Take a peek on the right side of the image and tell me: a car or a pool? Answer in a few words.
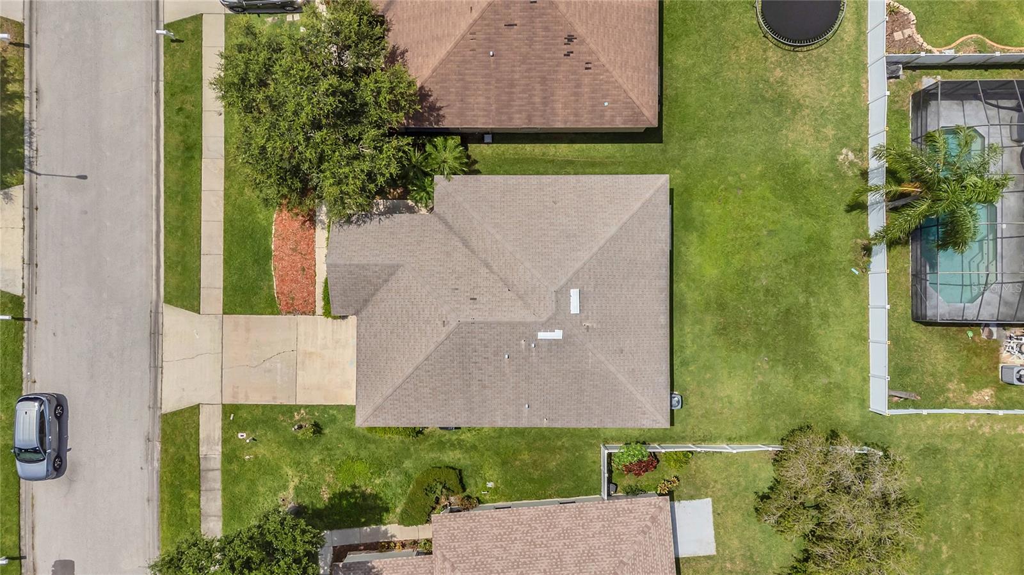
pool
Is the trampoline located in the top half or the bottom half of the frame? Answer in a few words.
top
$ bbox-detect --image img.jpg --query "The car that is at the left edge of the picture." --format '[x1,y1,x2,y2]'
[11,393,64,480]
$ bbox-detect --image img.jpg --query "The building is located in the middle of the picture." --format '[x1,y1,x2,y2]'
[325,174,670,428]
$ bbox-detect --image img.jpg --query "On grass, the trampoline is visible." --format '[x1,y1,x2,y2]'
[751,0,846,51]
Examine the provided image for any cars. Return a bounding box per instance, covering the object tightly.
[220,0,306,13]
[11,393,64,480]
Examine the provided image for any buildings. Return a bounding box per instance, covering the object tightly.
[322,0,658,133]
[331,488,676,575]
[325,174,670,428]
